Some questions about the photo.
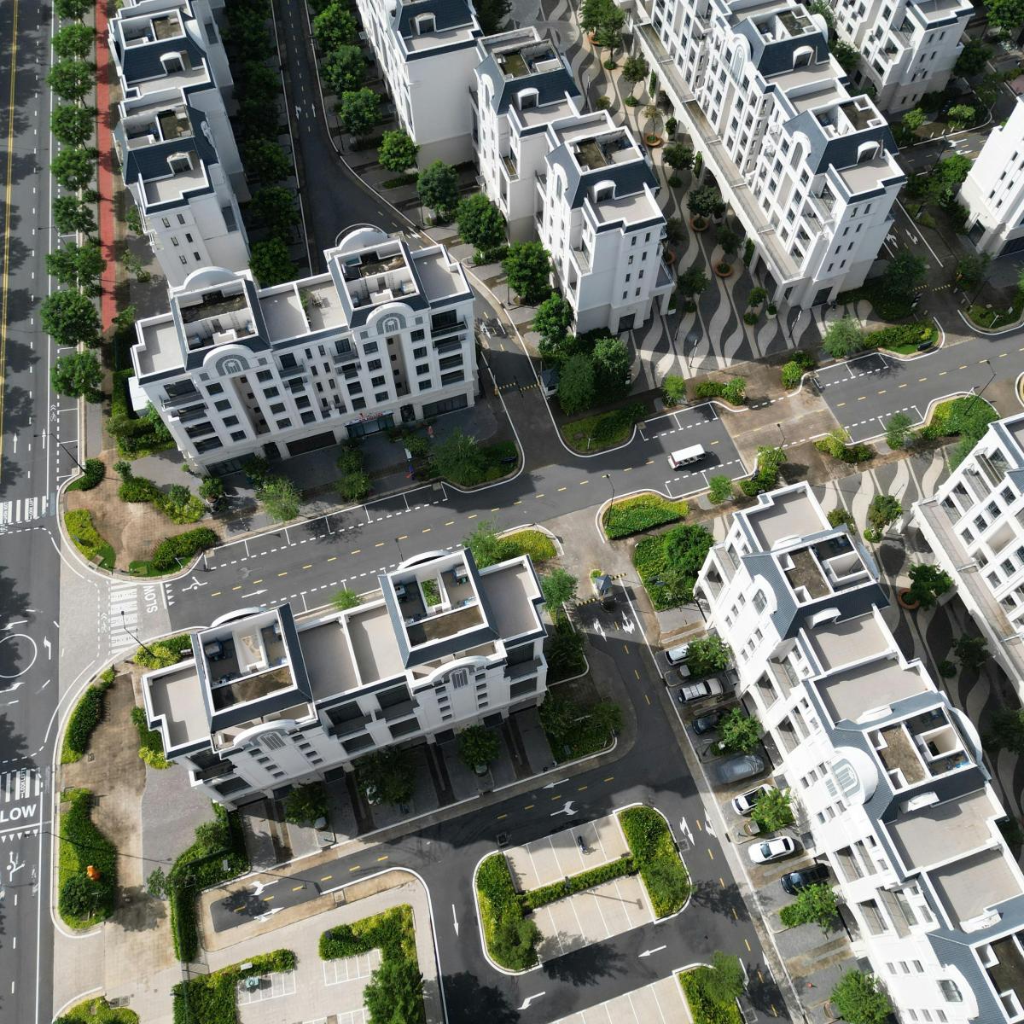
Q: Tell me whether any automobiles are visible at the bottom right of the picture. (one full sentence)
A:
Yes, I can see an automobile at the bottom right of the picture.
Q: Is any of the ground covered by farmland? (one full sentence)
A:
No, there's no farmland in this view.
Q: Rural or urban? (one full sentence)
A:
The area shown here is urban.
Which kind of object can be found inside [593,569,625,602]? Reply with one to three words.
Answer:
shed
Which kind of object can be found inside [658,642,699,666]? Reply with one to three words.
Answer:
car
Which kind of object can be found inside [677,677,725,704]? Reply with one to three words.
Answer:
car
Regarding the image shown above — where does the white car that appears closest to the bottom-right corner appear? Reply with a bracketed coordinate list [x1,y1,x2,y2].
[746,835,799,863]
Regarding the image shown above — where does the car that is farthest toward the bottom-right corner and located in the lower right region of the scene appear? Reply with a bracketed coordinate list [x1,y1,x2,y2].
[778,863,829,895]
